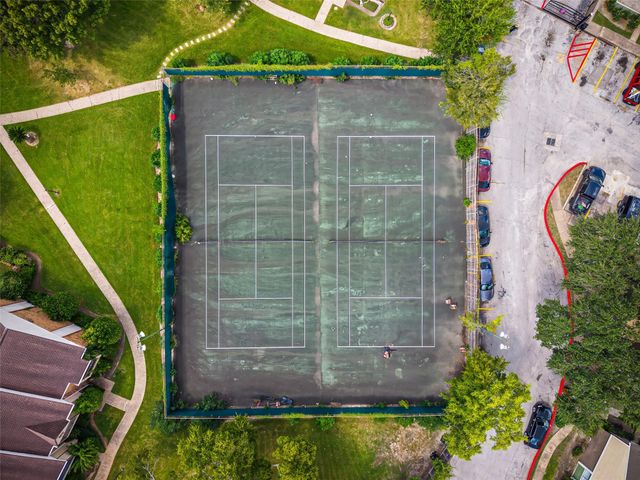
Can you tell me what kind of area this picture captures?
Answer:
sports ground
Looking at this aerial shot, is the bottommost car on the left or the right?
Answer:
right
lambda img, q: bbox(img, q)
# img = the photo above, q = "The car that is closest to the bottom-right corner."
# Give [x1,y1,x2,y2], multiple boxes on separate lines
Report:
[522,401,554,449]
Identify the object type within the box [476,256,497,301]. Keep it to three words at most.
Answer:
car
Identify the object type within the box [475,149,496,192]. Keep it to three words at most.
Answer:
car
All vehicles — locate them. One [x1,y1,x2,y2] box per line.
[522,401,554,449]
[476,256,497,301]
[473,204,494,248]
[475,149,496,192]
[622,65,640,109]
[473,109,494,140]
[620,192,640,214]
[566,167,608,214]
